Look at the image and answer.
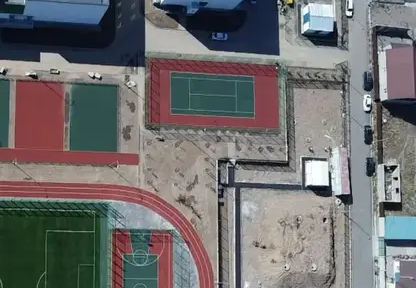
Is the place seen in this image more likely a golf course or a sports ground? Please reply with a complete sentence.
The area seen from above is a sports ground.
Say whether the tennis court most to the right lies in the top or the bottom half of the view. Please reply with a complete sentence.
Seen from above, the tennis court most to the right lies in the top half of the view.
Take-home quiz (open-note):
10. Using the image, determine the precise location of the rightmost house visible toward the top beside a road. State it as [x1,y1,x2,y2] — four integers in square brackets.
[379,42,416,104]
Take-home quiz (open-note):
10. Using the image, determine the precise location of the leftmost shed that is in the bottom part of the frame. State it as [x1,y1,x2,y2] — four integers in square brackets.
[300,159,331,187]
